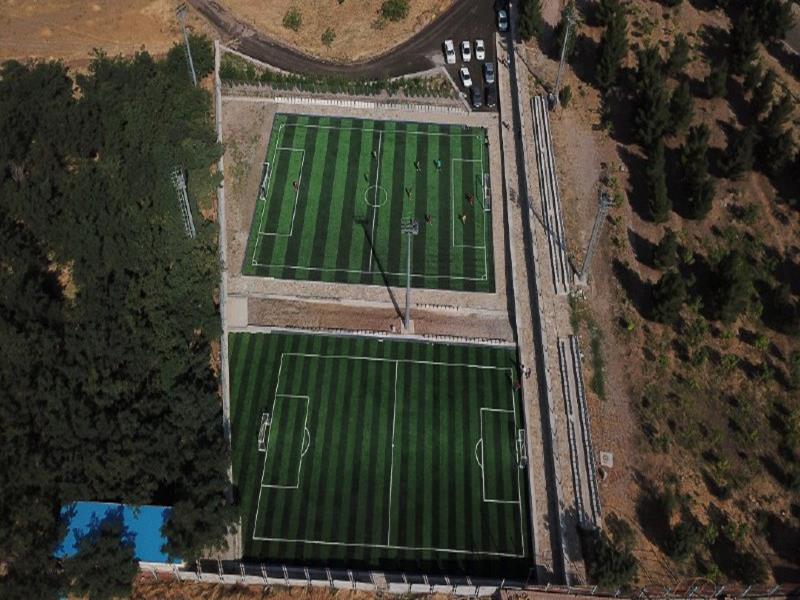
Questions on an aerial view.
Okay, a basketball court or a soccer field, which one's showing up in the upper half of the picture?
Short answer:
soccer field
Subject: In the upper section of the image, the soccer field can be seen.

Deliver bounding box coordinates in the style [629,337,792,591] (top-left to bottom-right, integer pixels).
[242,113,495,292]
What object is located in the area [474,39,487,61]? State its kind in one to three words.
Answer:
vehicle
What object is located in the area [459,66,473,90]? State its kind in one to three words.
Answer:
car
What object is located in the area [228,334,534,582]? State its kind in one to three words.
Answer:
soccer field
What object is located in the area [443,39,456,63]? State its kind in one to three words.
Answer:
vehicle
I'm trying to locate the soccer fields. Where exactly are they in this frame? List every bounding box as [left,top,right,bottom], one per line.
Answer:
[228,334,534,582]
[242,113,495,292]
